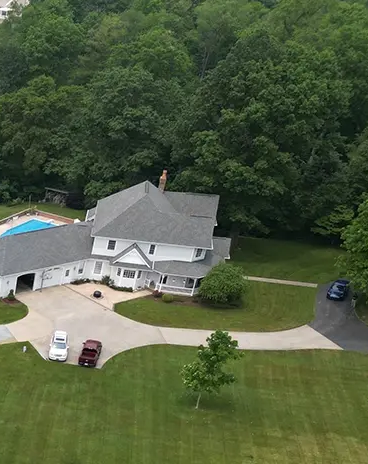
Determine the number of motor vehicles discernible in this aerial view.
3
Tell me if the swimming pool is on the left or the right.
left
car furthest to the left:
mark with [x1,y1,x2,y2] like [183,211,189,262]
[45,330,69,357]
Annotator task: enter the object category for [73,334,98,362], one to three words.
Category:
truck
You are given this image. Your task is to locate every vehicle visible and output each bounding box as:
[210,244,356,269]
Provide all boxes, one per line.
[45,330,69,357]
[323,280,346,300]
[73,334,98,362]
